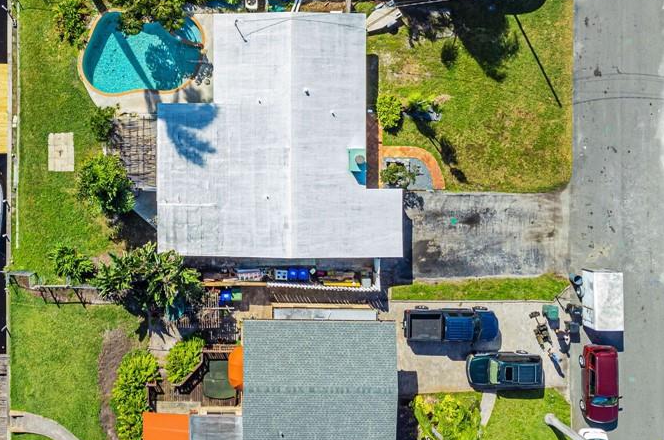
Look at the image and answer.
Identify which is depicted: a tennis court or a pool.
pool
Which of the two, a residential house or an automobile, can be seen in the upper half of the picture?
residential house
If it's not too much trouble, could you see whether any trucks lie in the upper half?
No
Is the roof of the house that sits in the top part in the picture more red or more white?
white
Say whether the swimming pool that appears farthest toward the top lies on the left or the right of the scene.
left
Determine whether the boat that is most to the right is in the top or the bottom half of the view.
top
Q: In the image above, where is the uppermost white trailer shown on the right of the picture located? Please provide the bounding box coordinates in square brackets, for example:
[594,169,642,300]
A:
[575,249,624,331]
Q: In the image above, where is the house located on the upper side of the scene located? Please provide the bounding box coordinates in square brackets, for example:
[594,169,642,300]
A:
[157,12,403,259]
